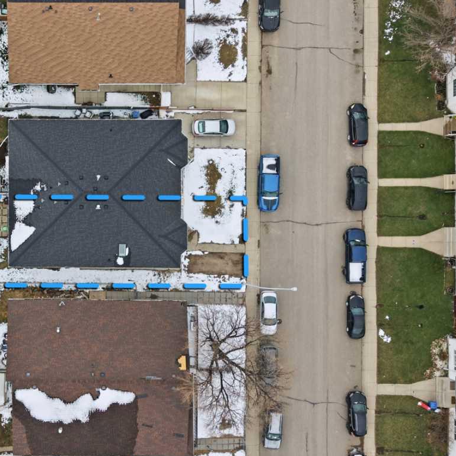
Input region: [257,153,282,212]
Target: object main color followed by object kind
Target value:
blue truck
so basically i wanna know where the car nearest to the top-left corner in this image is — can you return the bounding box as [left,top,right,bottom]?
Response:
[192,117,236,138]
